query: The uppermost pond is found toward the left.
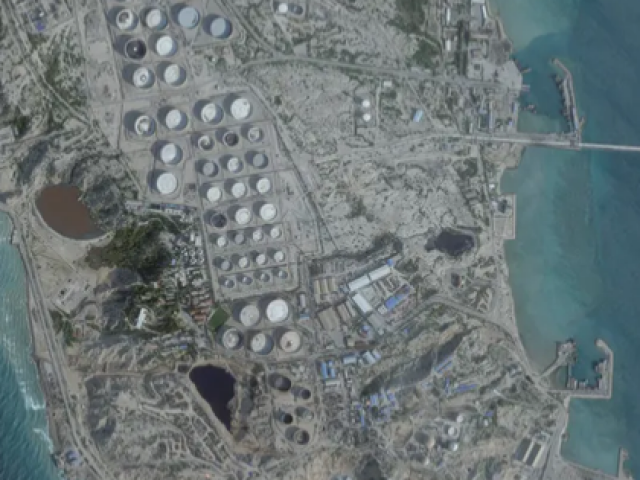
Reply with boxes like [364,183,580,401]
[36,184,104,240]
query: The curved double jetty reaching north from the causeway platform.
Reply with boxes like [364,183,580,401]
[552,57,584,133]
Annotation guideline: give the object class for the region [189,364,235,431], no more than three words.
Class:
pond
